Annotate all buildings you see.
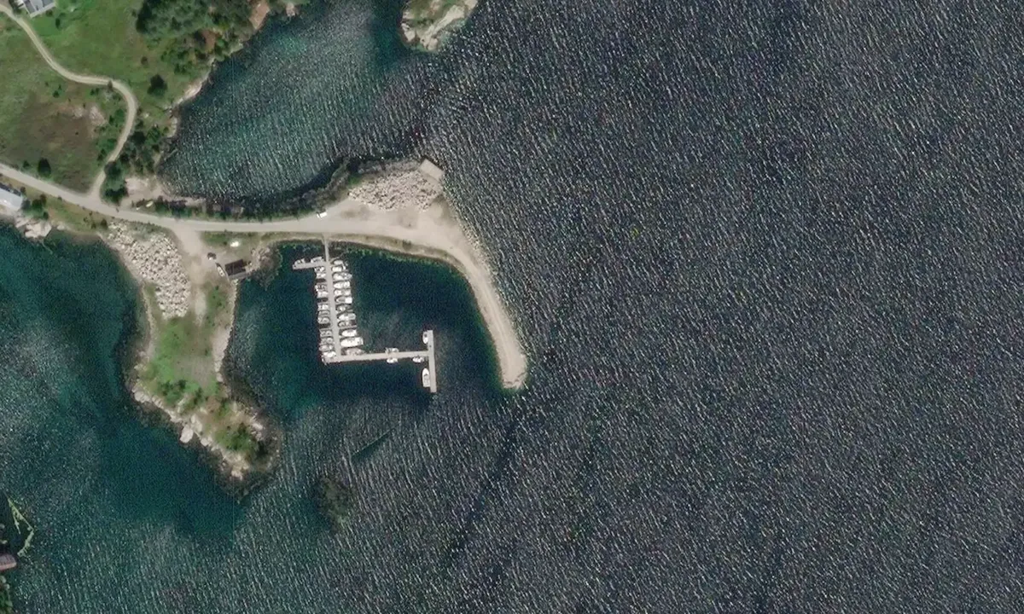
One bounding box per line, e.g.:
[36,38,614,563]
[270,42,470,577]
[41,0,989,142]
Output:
[25,0,56,18]
[0,553,14,568]
[226,259,245,275]
[0,185,23,215]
